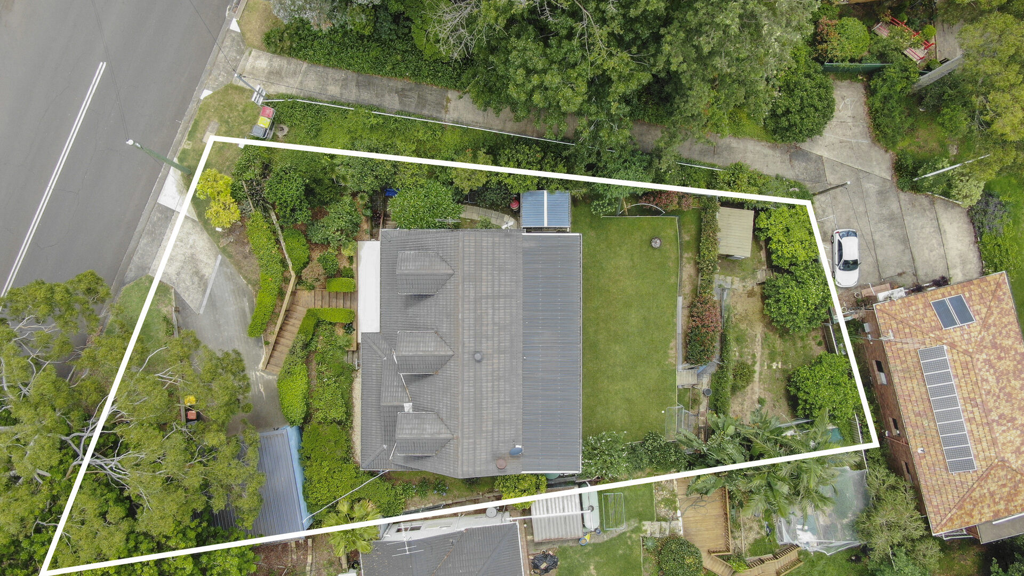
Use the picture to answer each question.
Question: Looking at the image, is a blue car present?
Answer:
No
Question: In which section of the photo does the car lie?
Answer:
right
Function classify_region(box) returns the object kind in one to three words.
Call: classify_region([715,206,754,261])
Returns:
shed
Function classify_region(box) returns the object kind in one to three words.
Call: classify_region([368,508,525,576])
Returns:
house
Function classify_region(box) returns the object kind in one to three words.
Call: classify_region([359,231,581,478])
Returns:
house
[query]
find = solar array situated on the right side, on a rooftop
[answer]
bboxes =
[918,343,976,476]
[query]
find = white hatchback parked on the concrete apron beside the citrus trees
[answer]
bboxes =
[827,227,863,290]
